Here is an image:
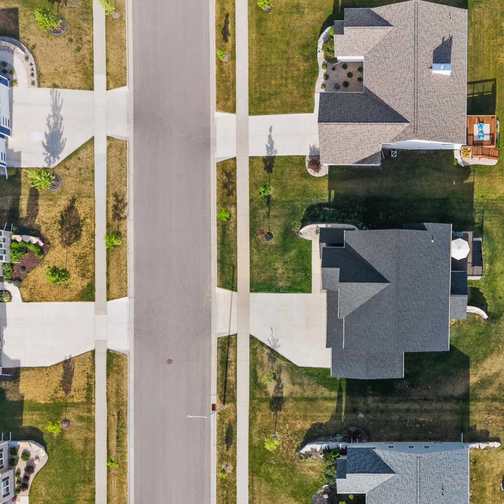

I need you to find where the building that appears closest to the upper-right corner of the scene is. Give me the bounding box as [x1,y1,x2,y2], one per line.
[318,0,469,172]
